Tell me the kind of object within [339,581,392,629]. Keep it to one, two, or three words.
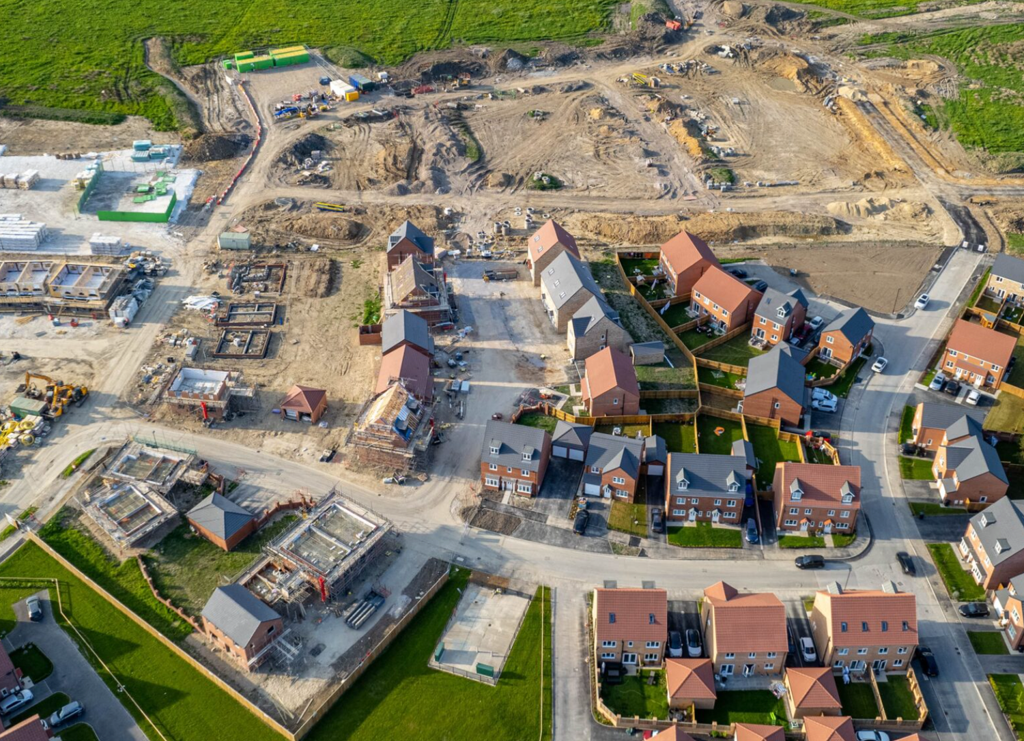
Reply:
trailer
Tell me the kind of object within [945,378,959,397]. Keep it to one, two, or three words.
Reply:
car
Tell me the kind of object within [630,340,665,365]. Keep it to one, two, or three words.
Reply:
building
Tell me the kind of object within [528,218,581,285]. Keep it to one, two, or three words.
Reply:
house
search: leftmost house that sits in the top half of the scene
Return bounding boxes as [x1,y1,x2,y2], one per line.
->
[0,258,63,313]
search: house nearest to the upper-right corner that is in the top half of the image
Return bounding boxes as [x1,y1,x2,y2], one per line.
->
[984,251,1024,307]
